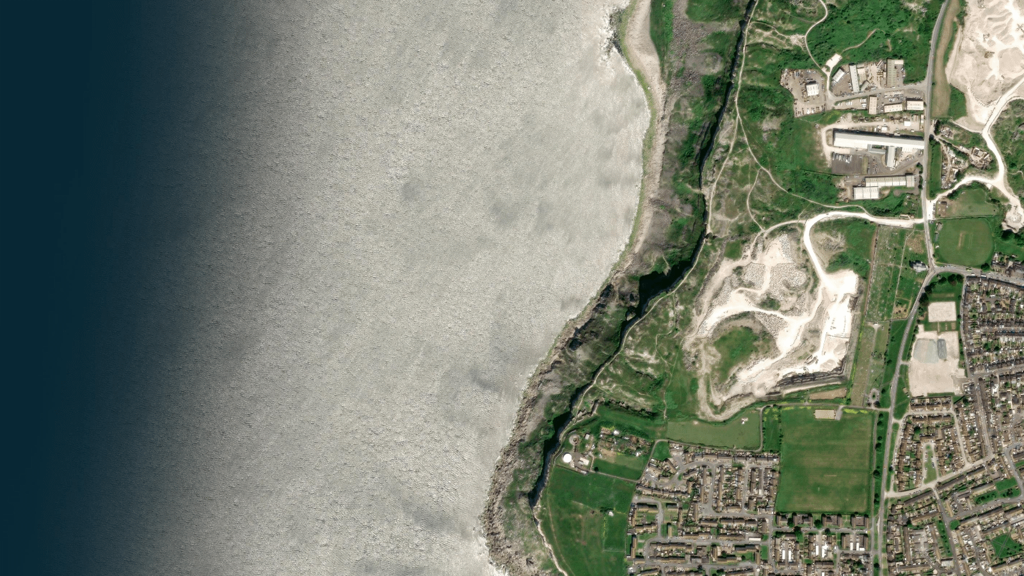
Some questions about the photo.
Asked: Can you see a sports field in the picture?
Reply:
Yes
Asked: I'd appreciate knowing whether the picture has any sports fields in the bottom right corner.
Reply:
Yes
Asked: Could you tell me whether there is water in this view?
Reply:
Yes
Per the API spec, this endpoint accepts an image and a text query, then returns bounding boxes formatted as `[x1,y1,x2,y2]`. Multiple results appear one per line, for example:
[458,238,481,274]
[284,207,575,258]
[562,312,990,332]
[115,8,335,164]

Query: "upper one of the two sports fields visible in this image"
[935,217,995,267]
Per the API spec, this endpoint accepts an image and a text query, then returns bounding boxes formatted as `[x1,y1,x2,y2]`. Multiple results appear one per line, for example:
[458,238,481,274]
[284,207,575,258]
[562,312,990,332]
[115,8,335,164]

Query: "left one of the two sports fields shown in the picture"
[776,407,873,514]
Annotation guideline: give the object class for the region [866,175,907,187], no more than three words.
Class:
shed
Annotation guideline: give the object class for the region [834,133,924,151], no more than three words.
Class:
shed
